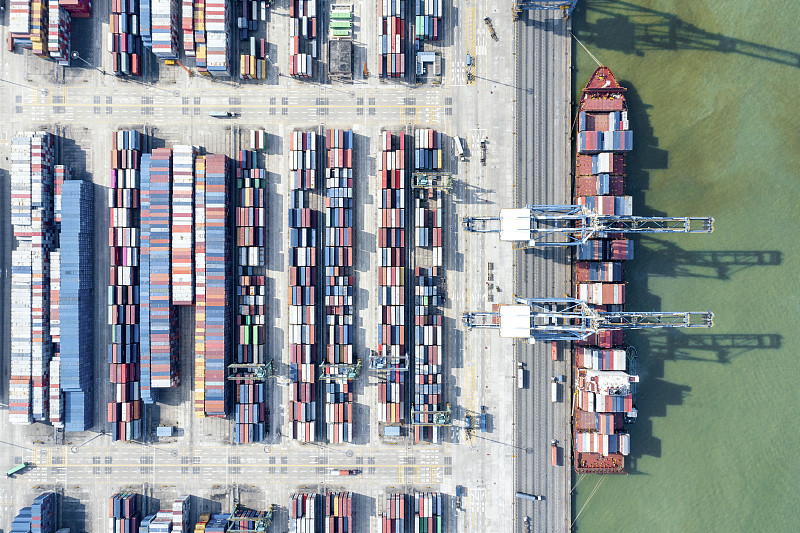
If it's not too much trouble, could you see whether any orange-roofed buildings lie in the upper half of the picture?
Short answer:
No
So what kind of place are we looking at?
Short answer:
port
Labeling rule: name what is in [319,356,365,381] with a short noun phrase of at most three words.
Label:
container crane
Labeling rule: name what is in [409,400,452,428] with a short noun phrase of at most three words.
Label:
container crane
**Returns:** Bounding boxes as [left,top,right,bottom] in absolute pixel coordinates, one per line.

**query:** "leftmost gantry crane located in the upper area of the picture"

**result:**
[409,170,452,195]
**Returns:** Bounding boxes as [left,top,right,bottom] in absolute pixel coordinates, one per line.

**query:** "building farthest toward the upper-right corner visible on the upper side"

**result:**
[416,52,441,76]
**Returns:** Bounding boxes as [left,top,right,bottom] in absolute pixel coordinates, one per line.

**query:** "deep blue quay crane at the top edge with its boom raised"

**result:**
[516,0,578,21]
